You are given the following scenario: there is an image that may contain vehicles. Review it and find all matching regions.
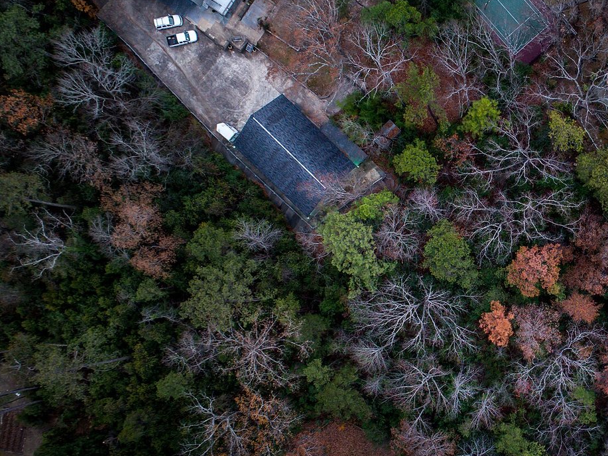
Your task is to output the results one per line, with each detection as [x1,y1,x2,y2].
[154,13,184,30]
[213,121,239,144]
[167,29,200,47]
